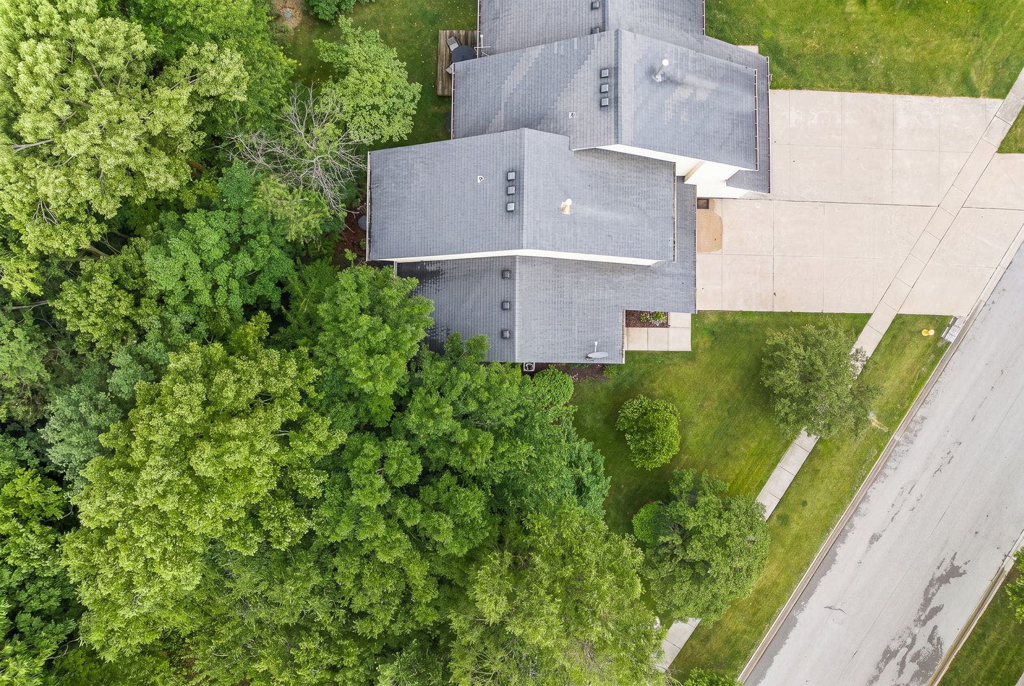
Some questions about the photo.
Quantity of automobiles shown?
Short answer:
0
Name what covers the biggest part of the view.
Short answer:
trees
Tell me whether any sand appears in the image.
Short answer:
No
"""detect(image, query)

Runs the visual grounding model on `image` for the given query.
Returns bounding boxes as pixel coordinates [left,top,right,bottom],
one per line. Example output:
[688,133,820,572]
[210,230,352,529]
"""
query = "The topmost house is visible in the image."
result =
[453,0,770,198]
